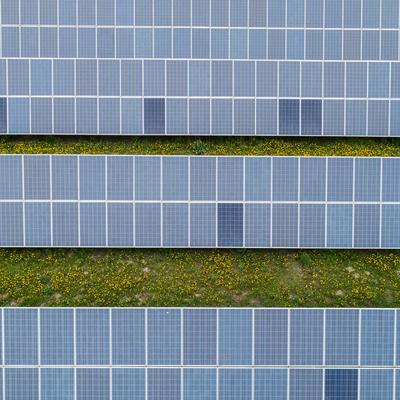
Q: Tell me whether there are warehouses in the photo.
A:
No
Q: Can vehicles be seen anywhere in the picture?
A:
No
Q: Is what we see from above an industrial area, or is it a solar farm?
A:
solar farm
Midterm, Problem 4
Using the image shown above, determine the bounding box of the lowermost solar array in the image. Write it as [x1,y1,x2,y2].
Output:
[0,307,400,400]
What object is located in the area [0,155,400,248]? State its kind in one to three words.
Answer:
solar array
